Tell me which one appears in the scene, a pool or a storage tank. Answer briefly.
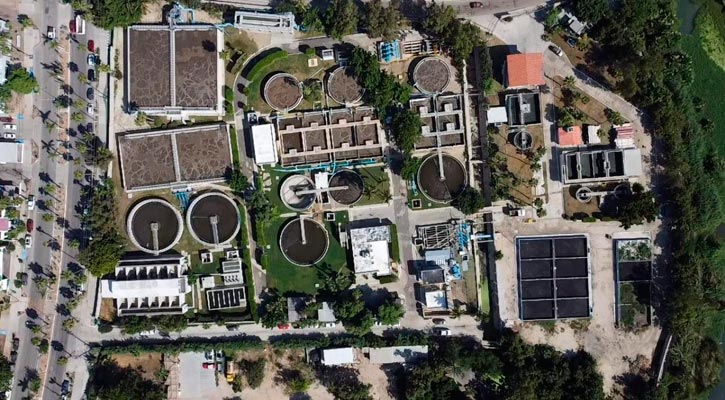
storage tank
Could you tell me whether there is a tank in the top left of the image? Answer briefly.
Yes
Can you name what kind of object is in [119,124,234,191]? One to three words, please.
storage tank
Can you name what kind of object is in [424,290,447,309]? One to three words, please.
building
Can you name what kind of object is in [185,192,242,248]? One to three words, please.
storage tank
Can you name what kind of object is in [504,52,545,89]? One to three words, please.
house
